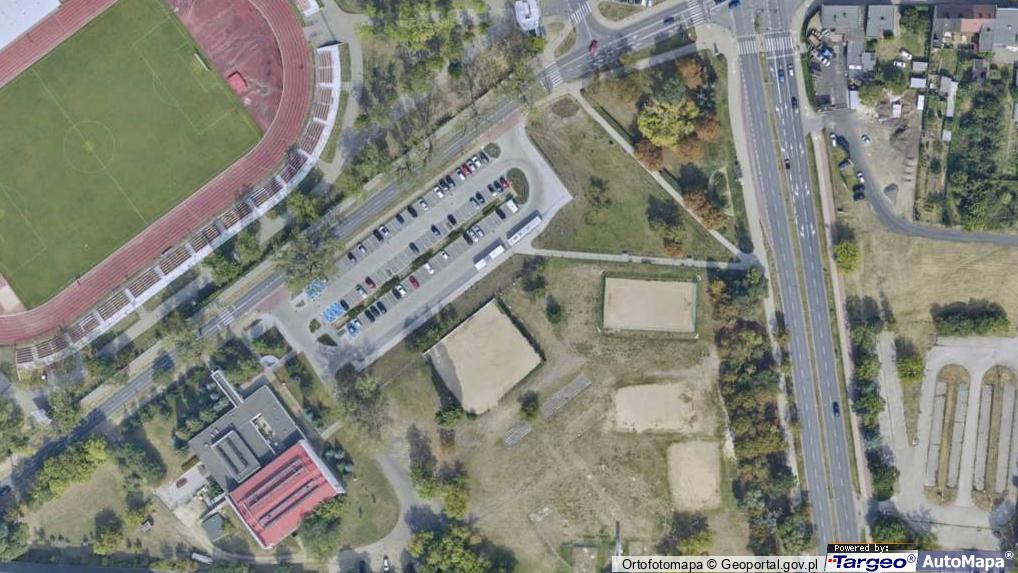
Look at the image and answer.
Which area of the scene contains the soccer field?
top left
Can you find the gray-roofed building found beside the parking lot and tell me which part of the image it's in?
bottom left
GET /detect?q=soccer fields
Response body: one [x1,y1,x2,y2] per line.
[0,0,261,303]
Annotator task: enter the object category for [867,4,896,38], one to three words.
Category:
house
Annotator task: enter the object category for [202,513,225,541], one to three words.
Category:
shed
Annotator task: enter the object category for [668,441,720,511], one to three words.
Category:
sports court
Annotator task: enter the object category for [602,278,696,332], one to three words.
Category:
sports court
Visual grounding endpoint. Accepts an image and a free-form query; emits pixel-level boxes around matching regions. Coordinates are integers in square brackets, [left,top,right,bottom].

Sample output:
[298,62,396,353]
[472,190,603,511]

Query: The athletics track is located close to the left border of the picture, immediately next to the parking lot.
[0,0,312,341]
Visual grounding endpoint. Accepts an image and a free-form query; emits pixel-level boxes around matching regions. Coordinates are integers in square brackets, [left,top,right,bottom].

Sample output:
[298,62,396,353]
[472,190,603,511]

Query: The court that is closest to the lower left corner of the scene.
[431,302,540,412]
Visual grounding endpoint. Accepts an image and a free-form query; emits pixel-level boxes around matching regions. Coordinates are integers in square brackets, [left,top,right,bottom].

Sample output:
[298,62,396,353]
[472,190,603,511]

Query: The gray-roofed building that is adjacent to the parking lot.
[188,386,304,494]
